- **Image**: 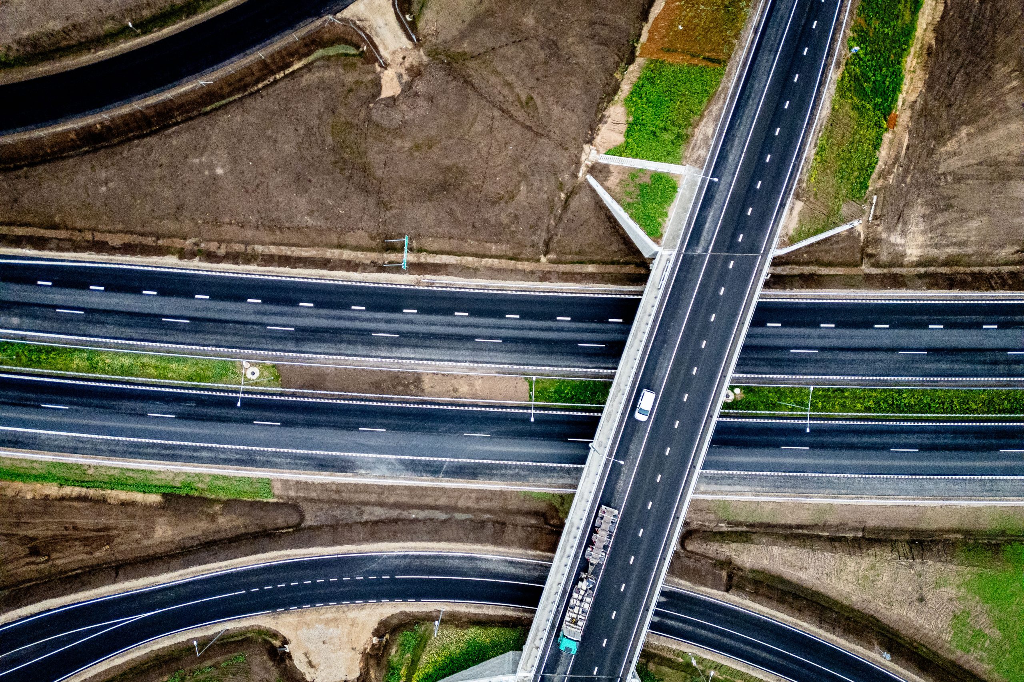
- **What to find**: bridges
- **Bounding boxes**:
[517,246,777,682]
